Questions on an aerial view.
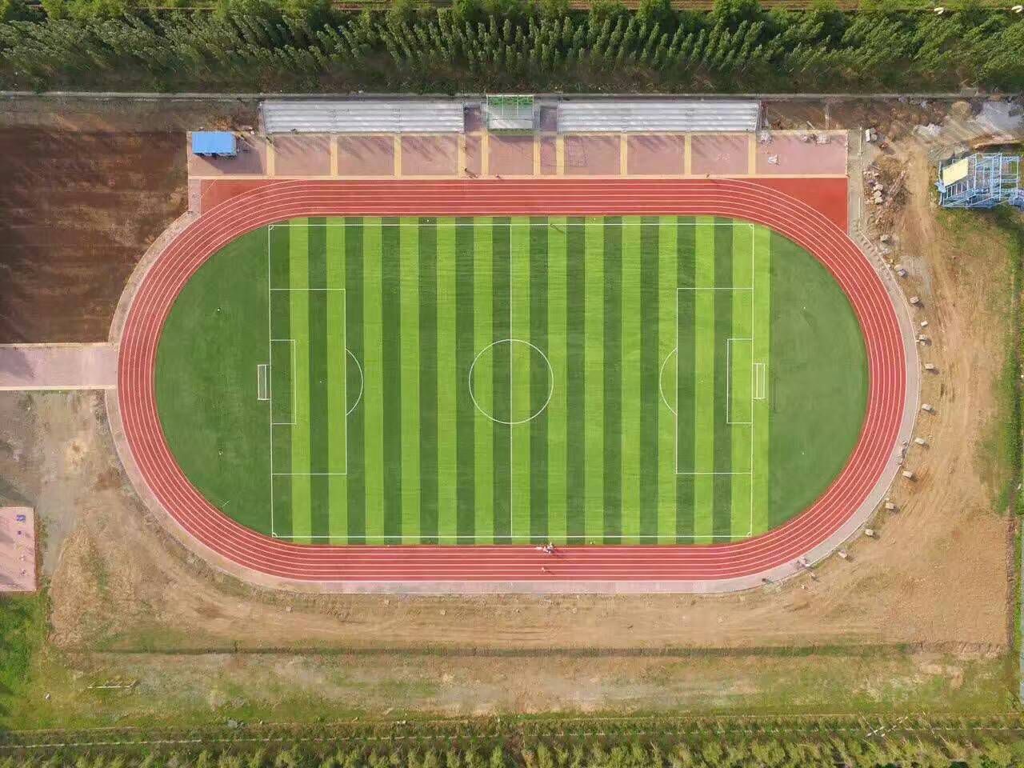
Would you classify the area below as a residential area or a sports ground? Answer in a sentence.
The picture captures a sports ground.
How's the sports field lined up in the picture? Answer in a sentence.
The sports field is oriented from side to side.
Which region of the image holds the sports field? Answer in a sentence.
The sports field appears toward the center of the photo.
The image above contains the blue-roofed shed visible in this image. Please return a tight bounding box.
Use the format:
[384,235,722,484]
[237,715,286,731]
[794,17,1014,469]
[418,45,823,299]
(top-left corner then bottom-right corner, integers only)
[192,132,240,156]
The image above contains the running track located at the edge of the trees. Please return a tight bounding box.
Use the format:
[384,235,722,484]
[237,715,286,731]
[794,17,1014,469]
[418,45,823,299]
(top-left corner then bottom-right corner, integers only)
[117,178,906,581]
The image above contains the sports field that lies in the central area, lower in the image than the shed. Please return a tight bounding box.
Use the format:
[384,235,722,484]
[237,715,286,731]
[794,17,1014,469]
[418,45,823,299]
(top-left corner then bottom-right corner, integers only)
[154,215,869,545]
